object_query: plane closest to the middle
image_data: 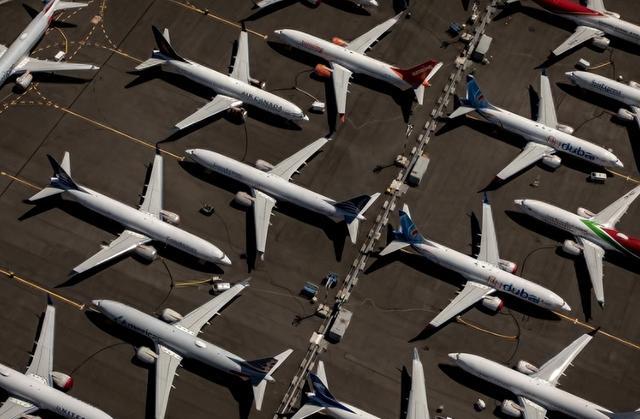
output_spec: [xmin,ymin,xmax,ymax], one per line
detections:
[186,130,381,261]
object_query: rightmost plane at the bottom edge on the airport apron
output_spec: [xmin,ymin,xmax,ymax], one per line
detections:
[448,327,640,419]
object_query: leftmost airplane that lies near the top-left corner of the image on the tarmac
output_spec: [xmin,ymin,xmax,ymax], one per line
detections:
[0,0,99,89]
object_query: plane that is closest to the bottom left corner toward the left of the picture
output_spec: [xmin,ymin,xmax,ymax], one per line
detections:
[0,293,119,419]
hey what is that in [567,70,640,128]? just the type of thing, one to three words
airplane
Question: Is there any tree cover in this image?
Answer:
No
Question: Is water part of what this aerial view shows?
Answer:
No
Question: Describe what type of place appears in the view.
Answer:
airport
